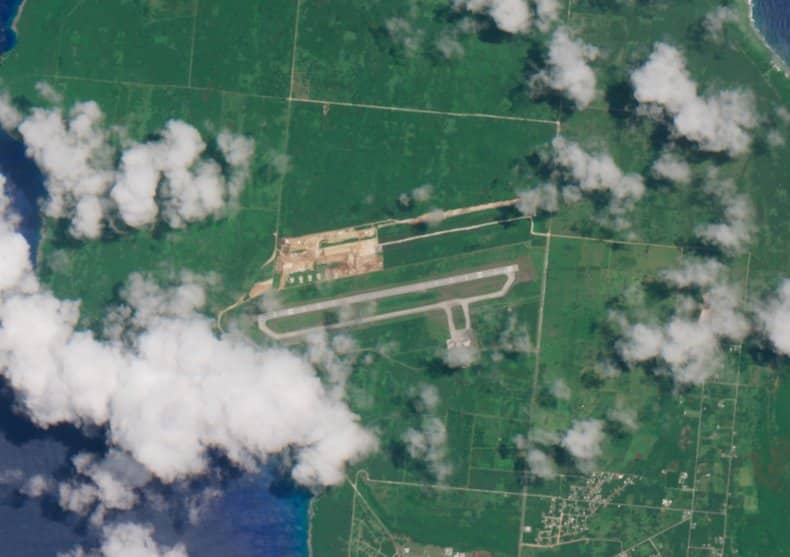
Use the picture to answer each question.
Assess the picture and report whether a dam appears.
No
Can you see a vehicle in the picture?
No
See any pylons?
No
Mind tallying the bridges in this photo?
0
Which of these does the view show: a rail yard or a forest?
forest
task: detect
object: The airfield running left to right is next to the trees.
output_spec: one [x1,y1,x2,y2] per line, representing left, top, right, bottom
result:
[260,254,535,352]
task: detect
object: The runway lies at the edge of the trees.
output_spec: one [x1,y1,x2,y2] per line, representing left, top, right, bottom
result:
[261,265,519,320]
